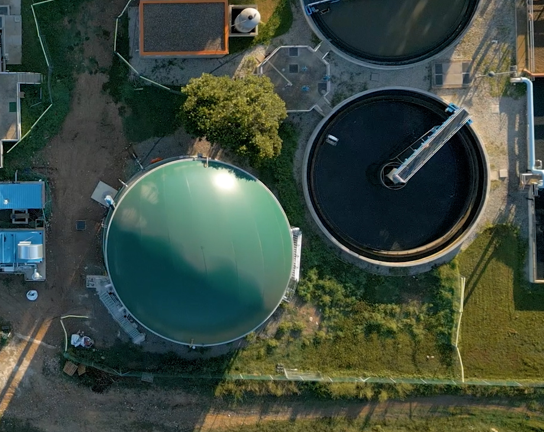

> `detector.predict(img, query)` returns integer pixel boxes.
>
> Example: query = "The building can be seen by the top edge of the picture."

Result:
[136,0,229,59]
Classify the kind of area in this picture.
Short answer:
industrial area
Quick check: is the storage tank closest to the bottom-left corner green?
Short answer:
Yes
